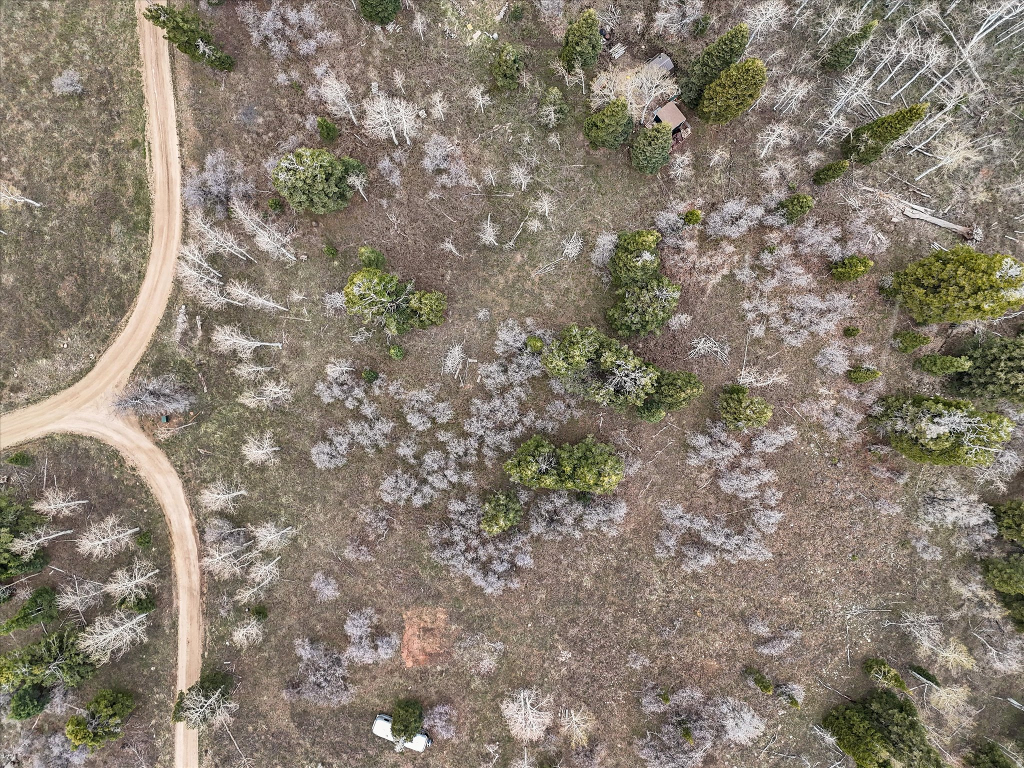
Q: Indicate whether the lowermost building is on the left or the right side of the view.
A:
right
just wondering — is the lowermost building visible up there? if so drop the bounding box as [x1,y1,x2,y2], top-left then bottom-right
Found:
[655,102,686,133]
